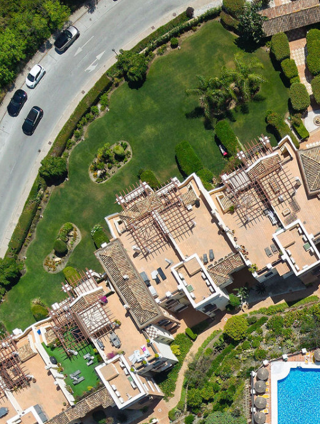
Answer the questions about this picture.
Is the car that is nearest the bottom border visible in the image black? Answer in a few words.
Yes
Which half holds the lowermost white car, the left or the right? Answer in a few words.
left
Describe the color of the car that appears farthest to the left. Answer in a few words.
black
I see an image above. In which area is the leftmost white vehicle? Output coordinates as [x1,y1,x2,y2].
[25,62,46,90]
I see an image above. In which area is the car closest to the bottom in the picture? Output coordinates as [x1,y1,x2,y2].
[22,104,45,137]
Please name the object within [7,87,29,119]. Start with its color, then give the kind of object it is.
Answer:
black car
